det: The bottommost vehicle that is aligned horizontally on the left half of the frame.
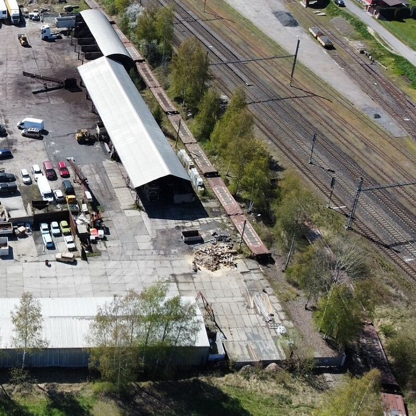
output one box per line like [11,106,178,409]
[51,250,79,263]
